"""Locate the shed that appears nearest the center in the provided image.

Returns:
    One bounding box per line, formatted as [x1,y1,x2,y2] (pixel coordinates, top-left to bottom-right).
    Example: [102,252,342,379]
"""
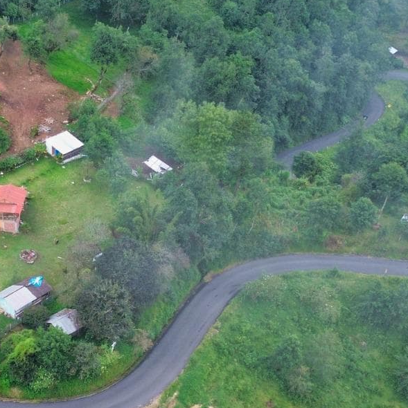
[143,156,172,180]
